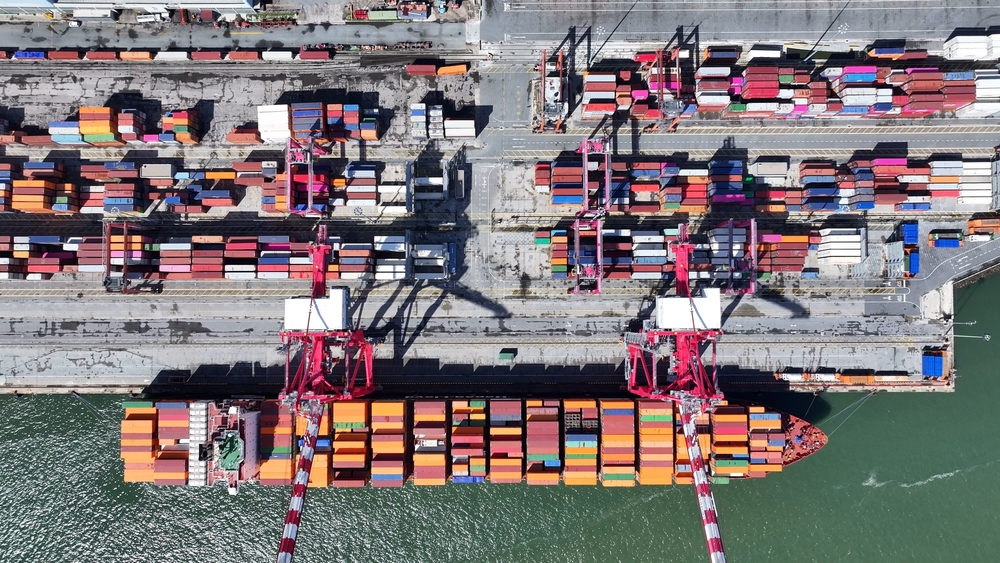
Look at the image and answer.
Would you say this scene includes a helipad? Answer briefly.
No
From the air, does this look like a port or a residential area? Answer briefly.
port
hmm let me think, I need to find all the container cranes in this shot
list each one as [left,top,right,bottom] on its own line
[104,222,169,295]
[699,220,758,295]
[273,226,384,563]
[558,221,605,295]
[618,226,729,563]
[565,139,612,218]
[634,47,681,133]
[286,139,339,218]
[530,50,567,133]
